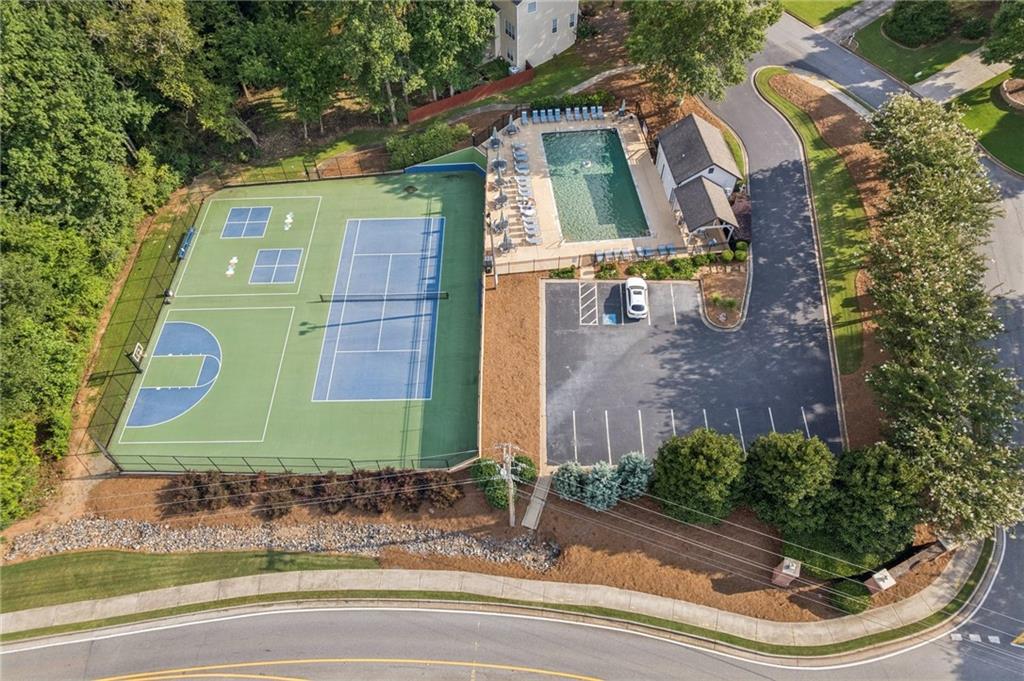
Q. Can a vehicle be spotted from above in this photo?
Yes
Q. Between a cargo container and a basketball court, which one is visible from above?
basketball court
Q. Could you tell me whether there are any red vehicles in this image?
No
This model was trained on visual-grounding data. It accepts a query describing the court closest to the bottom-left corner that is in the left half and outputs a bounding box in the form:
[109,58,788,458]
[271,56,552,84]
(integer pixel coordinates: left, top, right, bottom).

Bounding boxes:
[120,307,294,442]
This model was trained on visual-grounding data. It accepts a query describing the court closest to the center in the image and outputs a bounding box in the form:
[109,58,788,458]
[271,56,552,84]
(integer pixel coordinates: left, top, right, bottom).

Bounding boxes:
[311,217,446,401]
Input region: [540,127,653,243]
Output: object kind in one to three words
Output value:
swimming pool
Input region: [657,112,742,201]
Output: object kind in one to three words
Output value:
building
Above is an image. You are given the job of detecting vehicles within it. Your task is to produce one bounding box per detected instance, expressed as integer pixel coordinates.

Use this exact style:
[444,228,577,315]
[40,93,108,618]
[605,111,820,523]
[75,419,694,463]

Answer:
[626,279,650,320]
